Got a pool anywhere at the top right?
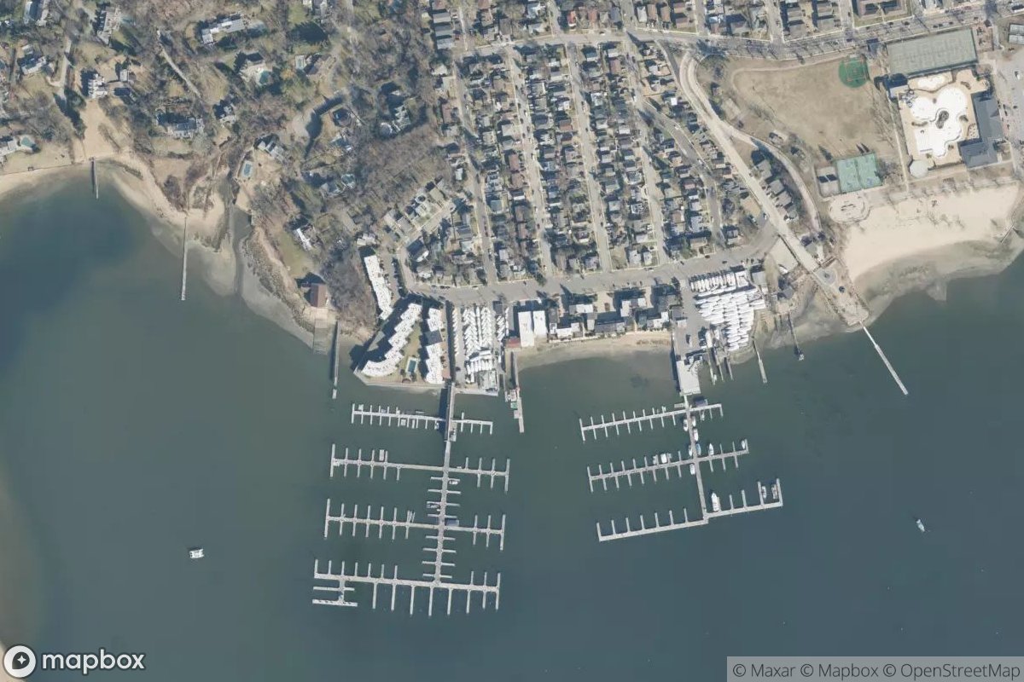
Yes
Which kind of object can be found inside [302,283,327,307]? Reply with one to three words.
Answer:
building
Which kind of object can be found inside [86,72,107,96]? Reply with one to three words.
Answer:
house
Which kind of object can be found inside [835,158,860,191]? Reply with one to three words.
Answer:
tennis court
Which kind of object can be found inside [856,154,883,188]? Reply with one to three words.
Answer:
tennis court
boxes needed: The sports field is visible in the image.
[722,49,901,162]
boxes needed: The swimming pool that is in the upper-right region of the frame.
[897,69,989,170]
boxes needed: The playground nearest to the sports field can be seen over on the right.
[827,192,869,223]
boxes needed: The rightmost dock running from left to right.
[706,478,783,517]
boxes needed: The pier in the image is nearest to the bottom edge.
[313,559,500,616]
